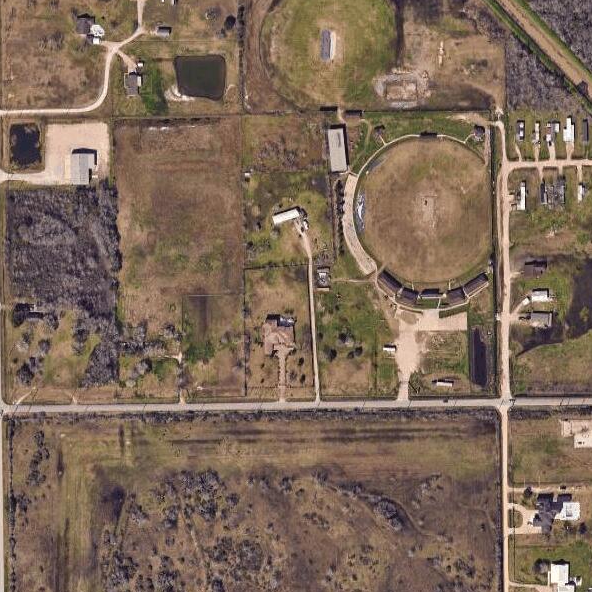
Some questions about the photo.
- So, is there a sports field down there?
Yes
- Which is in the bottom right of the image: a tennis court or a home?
home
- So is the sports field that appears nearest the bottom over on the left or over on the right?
right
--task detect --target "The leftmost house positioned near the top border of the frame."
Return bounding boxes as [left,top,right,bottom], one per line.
[76,14,100,44]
